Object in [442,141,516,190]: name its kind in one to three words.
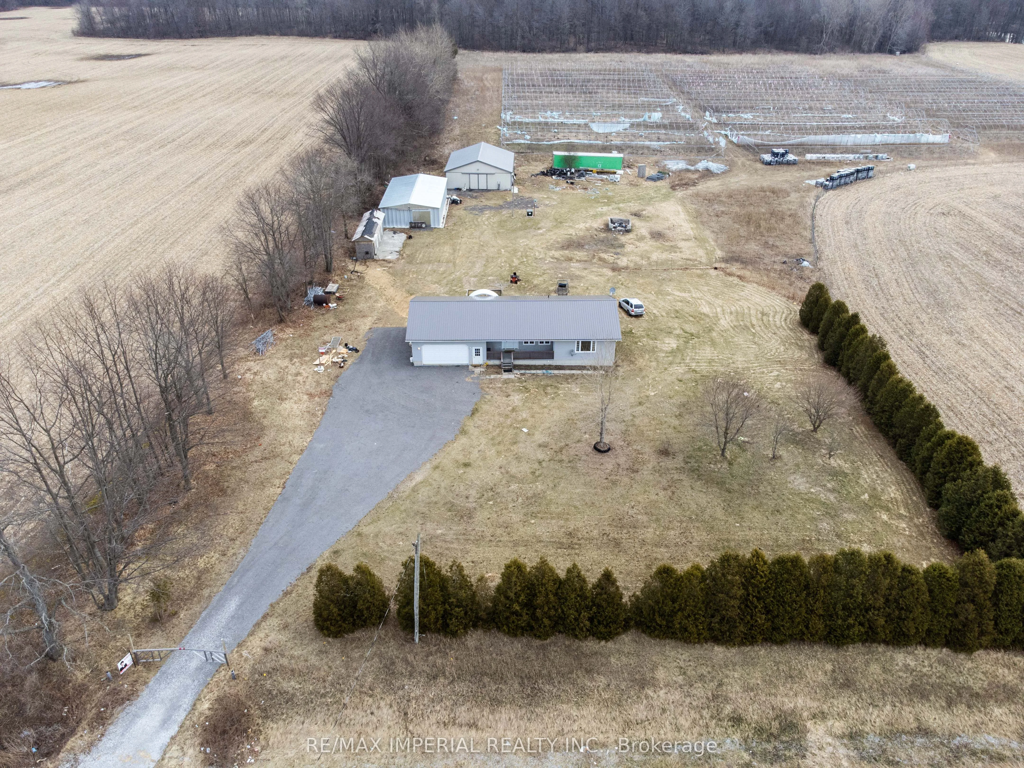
barn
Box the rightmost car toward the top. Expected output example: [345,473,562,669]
[619,294,647,314]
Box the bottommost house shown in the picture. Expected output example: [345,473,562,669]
[405,292,622,374]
